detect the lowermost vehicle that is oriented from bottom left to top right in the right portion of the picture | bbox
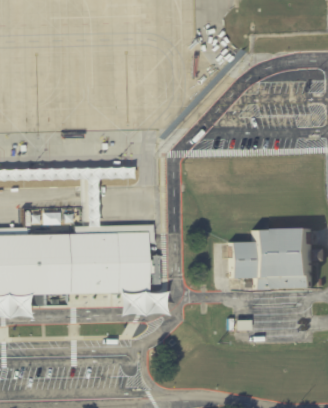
[189,128,206,144]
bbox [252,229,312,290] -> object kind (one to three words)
hangar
